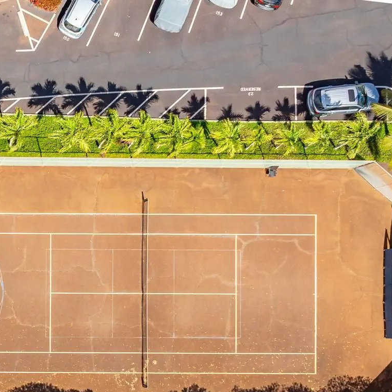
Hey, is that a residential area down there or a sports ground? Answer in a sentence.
This image shows a sports ground.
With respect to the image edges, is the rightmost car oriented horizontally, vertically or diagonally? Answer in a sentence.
Seen from above, the rightmost car lies horizontally.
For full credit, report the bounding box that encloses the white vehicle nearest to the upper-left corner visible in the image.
[59,0,104,41]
